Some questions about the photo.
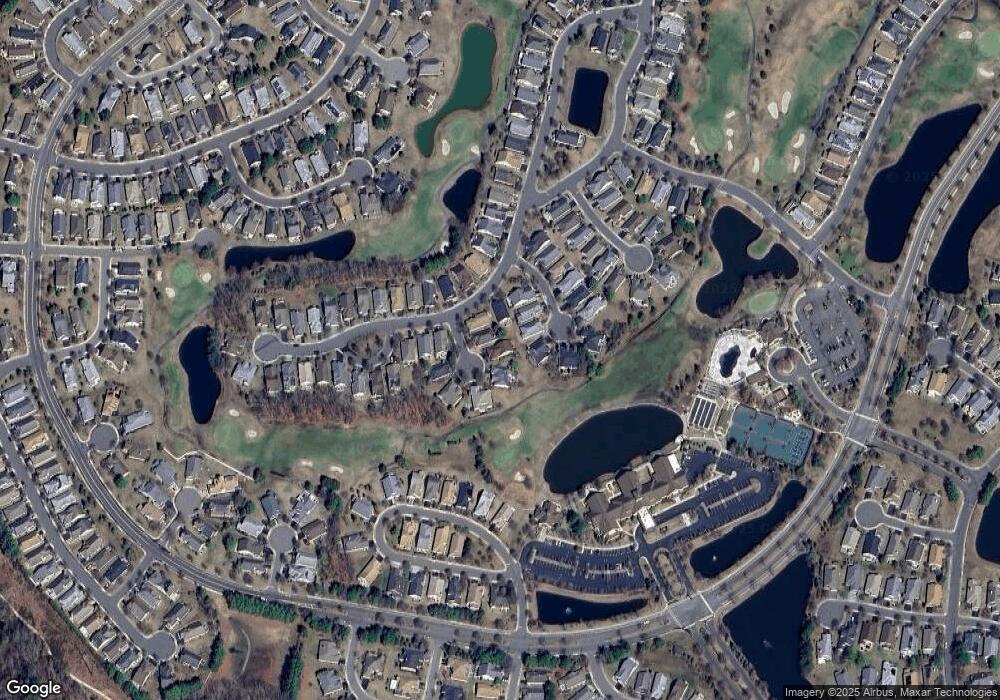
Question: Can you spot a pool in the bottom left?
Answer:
No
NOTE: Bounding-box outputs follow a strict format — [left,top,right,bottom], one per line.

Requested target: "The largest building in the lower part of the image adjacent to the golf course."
[582,453,692,537]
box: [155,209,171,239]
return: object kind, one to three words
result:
house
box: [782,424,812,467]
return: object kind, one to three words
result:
sports court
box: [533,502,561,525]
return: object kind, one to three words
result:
building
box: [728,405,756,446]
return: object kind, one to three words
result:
tennis court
